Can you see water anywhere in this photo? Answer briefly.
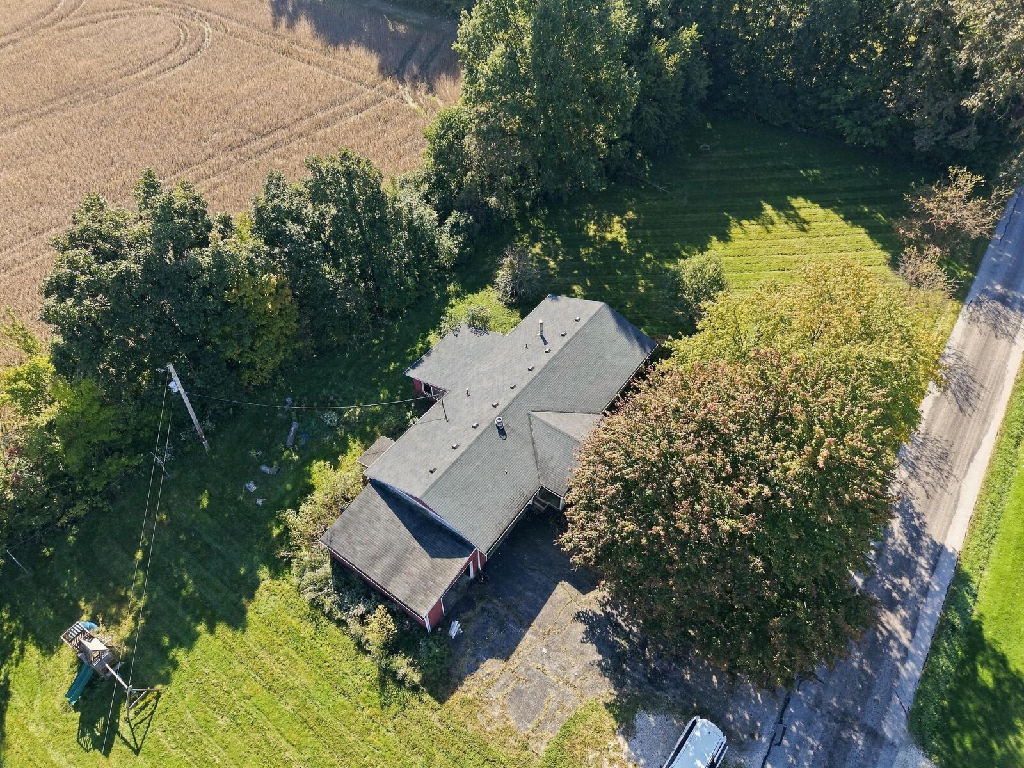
No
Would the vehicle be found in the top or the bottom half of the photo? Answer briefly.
bottom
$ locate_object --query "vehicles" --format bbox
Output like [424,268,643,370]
[661,718,725,768]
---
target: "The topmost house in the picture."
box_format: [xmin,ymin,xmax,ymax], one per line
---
[318,293,659,629]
